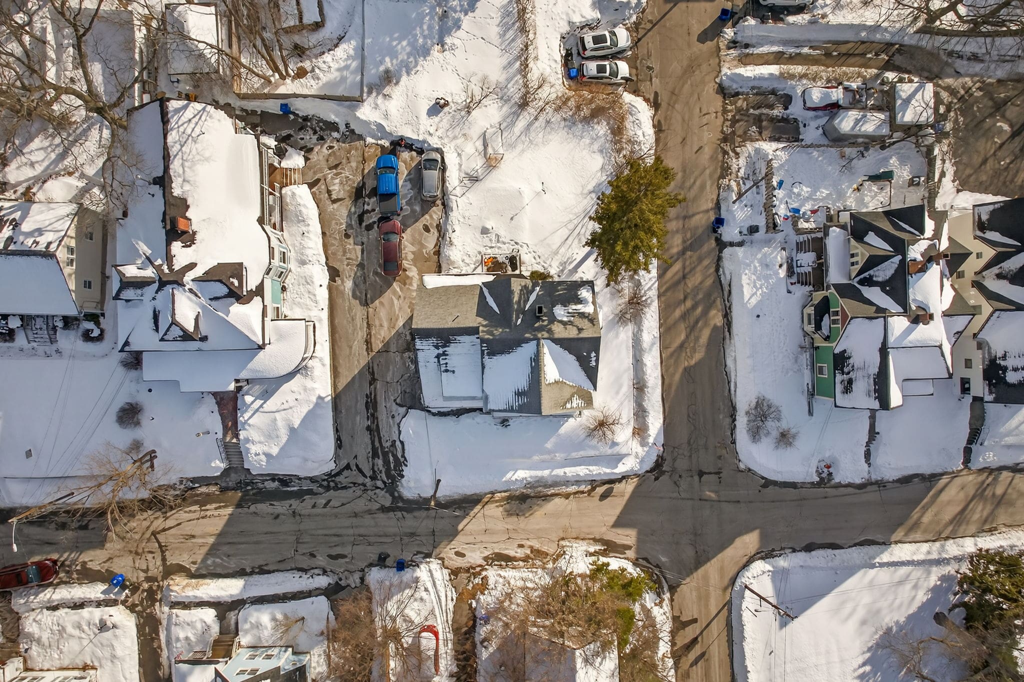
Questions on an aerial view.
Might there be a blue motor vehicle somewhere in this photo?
Yes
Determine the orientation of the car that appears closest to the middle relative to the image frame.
vertically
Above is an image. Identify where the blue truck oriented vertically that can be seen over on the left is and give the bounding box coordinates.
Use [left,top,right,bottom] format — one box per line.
[371,152,399,220]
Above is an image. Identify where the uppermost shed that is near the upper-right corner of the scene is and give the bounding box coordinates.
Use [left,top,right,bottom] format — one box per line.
[889,82,935,127]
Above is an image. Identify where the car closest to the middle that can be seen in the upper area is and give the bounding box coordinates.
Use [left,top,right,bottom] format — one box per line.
[376,220,403,277]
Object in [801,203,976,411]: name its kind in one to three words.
building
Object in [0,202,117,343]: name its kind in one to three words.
house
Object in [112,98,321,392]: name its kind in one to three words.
house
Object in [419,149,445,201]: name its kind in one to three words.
car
